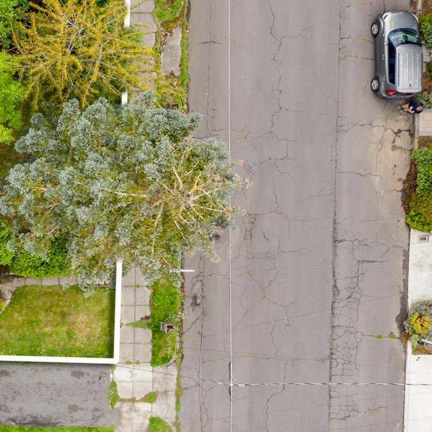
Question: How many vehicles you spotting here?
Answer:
1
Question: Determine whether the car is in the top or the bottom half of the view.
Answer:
top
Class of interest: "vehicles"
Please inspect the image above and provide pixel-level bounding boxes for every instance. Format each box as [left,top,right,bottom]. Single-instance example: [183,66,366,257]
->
[369,12,426,101]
